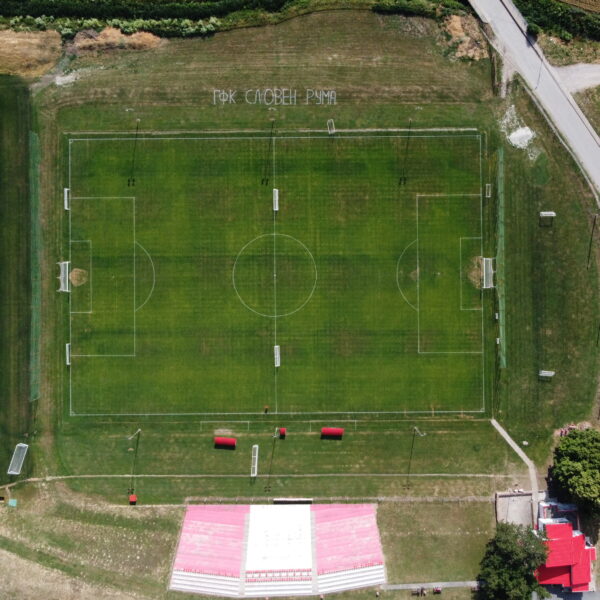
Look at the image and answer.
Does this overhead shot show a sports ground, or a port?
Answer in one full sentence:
The picture captures a sports ground.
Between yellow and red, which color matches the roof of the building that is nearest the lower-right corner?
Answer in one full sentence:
The roof of the building that is nearest the lower-right corner is red.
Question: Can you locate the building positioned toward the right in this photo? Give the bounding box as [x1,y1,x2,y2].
[534,502,596,592]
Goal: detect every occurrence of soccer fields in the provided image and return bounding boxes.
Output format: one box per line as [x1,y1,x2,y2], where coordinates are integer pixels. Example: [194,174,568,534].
[63,129,490,431]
